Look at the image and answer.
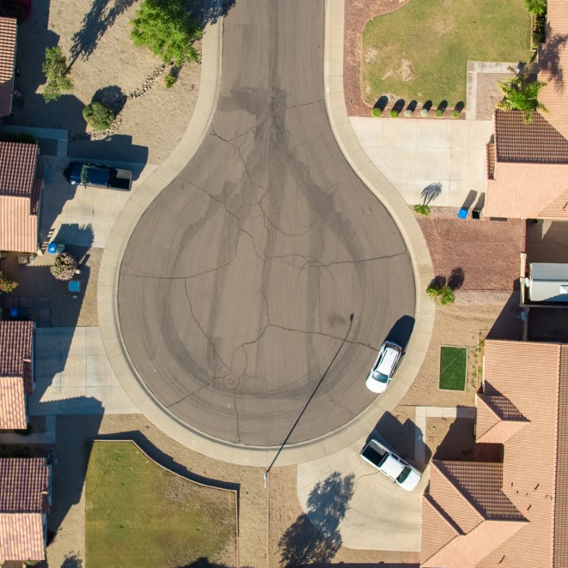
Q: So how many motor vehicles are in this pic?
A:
3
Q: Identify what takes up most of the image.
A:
paved ground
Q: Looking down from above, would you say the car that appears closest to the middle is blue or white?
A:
white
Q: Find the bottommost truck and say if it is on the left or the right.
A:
right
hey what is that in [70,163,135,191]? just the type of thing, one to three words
truck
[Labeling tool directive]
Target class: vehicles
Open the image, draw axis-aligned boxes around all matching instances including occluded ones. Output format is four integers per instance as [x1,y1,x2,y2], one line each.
[70,163,135,191]
[361,439,422,492]
[368,341,404,393]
